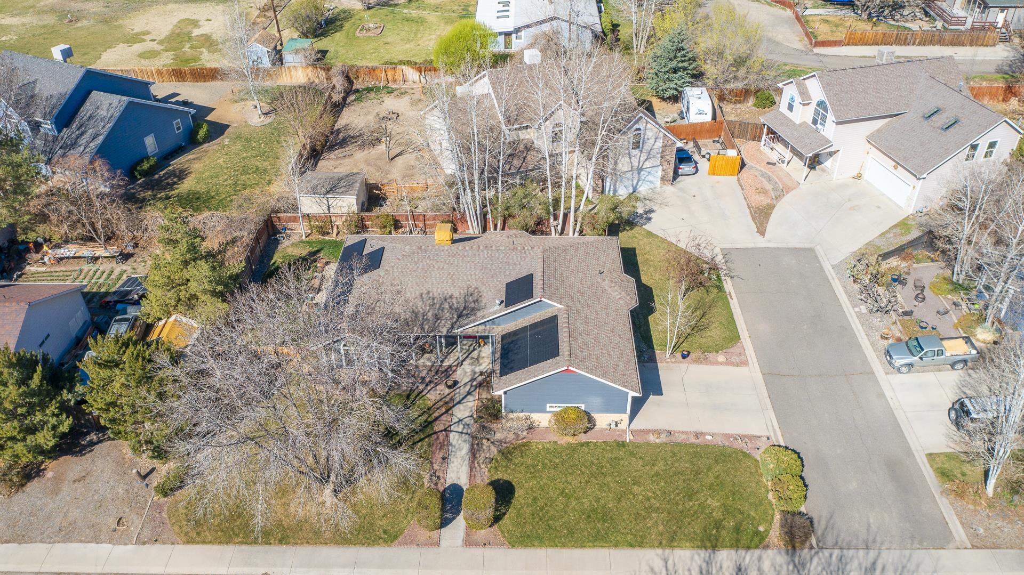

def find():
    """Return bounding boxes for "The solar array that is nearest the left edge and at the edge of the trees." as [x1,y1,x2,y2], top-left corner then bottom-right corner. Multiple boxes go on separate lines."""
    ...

[98,275,153,320]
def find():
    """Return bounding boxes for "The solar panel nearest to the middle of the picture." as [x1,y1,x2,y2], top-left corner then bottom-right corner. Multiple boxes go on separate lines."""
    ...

[503,269,533,306]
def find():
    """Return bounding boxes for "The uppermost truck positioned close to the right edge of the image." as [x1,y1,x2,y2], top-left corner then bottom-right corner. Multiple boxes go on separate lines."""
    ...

[874,331,984,375]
